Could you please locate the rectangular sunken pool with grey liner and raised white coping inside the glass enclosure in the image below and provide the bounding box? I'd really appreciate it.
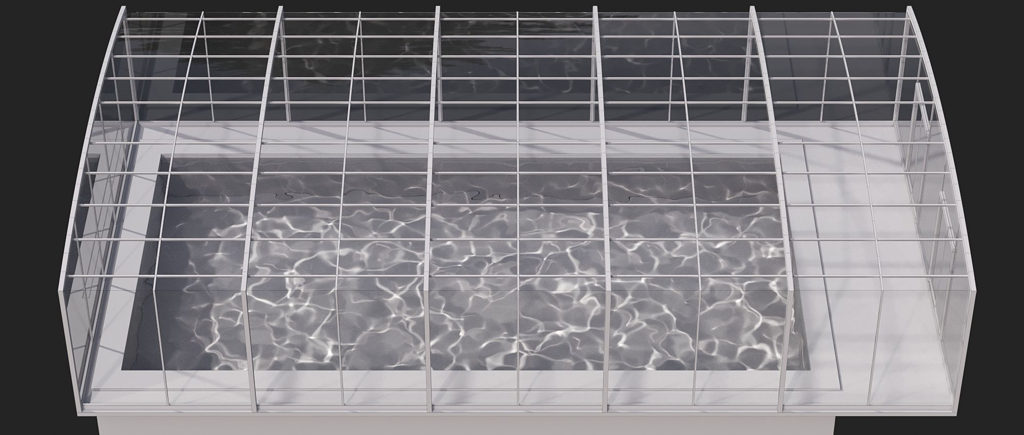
[92,139,840,435]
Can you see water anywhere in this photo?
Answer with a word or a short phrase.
Yes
